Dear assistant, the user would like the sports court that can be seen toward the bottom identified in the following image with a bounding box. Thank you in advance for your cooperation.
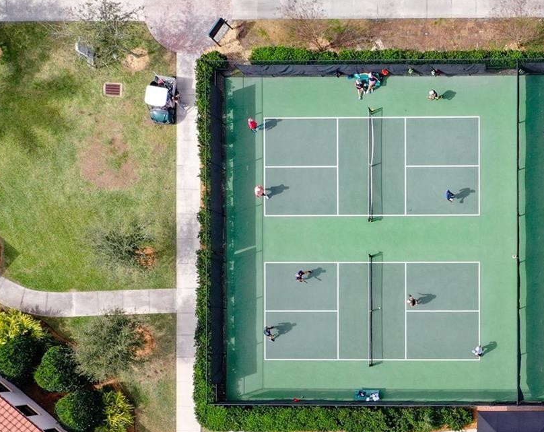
[264,262,481,361]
